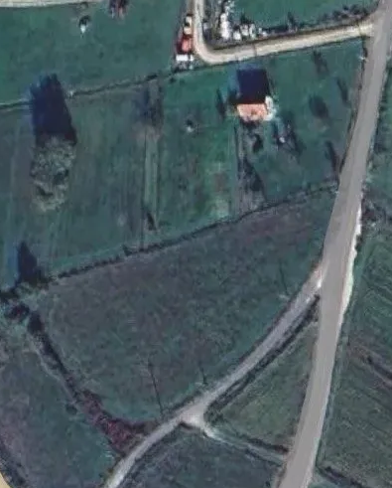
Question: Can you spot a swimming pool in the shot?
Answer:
No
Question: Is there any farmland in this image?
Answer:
Yes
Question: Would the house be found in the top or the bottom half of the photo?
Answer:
top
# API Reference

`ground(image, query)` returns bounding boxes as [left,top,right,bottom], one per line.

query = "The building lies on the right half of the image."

[238,99,277,125]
